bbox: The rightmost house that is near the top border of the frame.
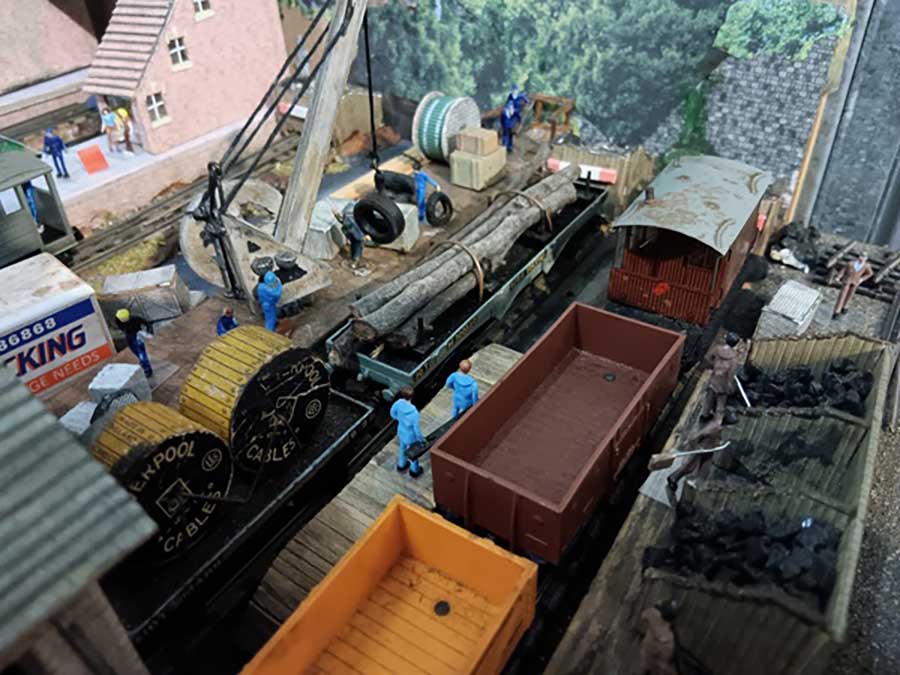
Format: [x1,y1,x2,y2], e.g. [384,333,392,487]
[74,0,291,153]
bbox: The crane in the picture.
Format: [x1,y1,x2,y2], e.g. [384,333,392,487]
[167,0,380,324]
